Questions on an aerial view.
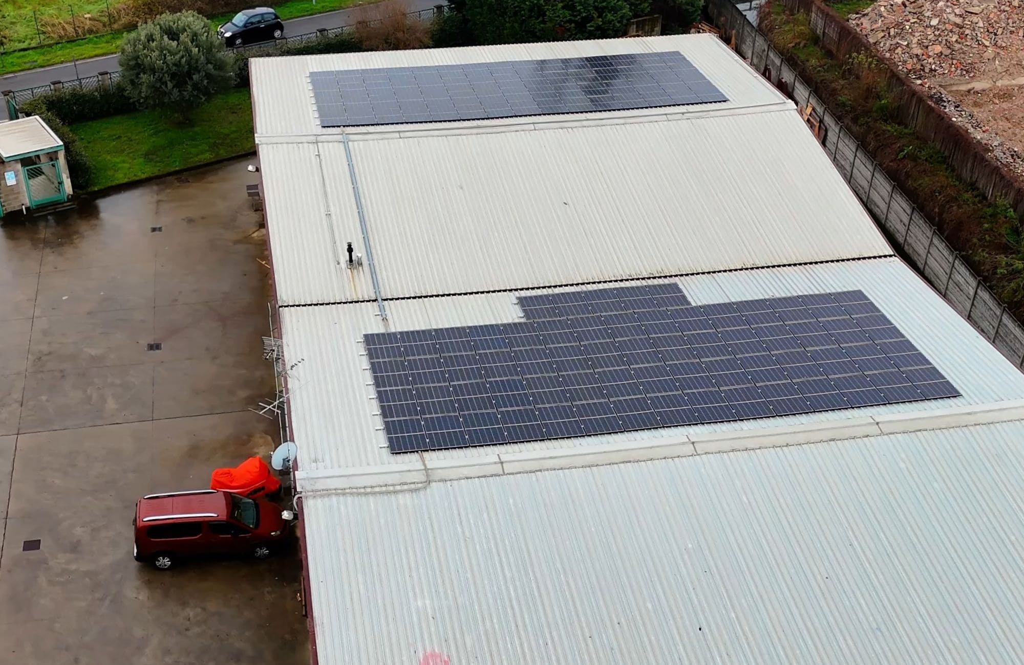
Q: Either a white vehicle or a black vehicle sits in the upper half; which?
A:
black vehicle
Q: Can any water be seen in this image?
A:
No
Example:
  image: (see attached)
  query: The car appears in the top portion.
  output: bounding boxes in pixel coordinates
[217,6,287,44]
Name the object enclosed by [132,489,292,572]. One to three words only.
van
